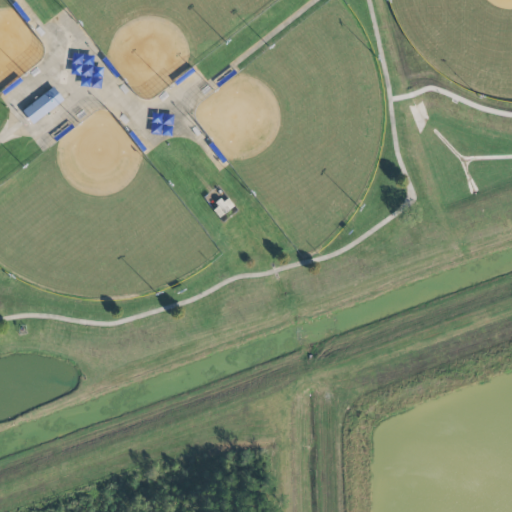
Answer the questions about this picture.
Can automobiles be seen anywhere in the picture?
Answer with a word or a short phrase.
No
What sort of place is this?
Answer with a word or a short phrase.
sports ground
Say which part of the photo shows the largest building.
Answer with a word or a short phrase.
top left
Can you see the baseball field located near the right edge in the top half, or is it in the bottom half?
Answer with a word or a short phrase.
top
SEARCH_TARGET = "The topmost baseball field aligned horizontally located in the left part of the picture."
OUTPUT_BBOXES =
[60,0,283,98]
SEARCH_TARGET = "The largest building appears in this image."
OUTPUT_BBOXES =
[24,87,64,124]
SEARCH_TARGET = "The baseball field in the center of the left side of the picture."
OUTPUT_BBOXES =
[0,110,219,300]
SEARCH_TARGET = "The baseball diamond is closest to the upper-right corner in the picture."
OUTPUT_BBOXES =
[388,0,512,100]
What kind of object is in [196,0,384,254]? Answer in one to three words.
baseball field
